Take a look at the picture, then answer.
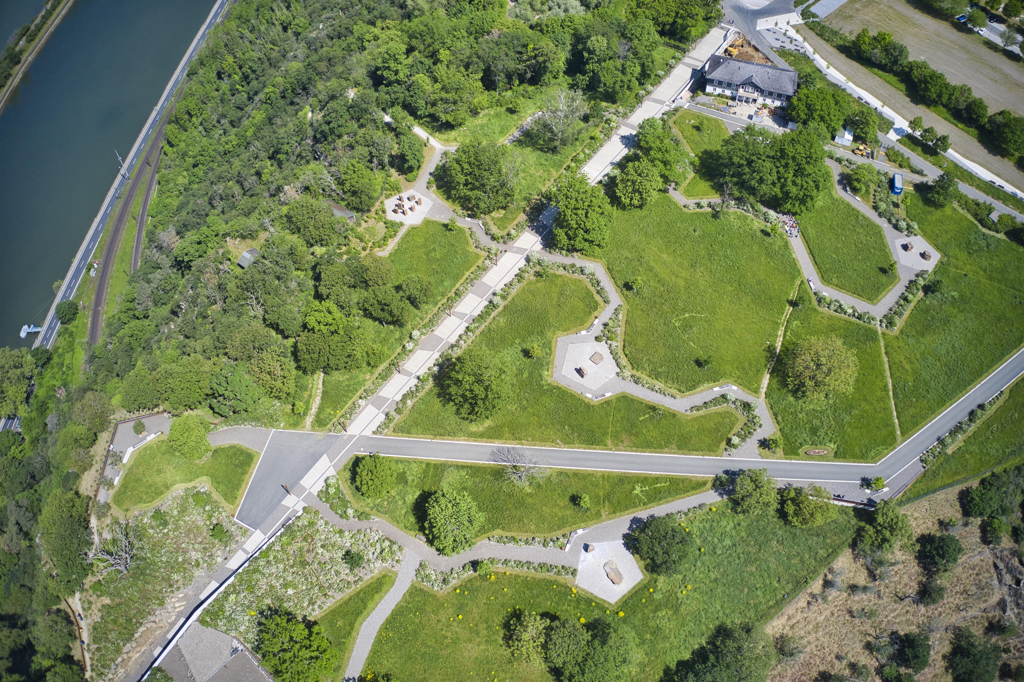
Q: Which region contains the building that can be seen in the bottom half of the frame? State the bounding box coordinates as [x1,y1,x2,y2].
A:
[160,621,277,682]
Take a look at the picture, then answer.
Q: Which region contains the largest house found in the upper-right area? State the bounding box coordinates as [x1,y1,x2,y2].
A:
[706,54,800,107]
